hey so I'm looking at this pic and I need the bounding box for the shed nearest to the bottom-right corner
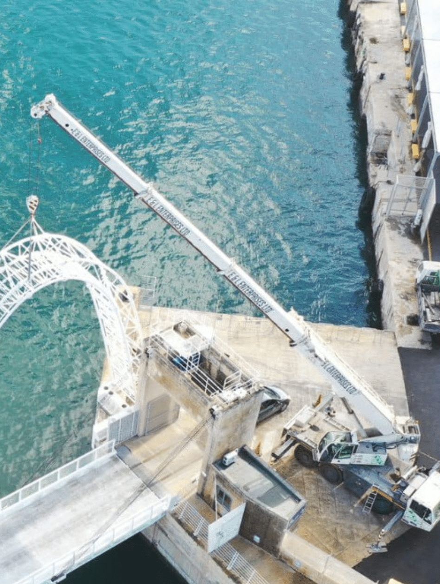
[206,446,307,554]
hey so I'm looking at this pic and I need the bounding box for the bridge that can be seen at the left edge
[0,440,169,584]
